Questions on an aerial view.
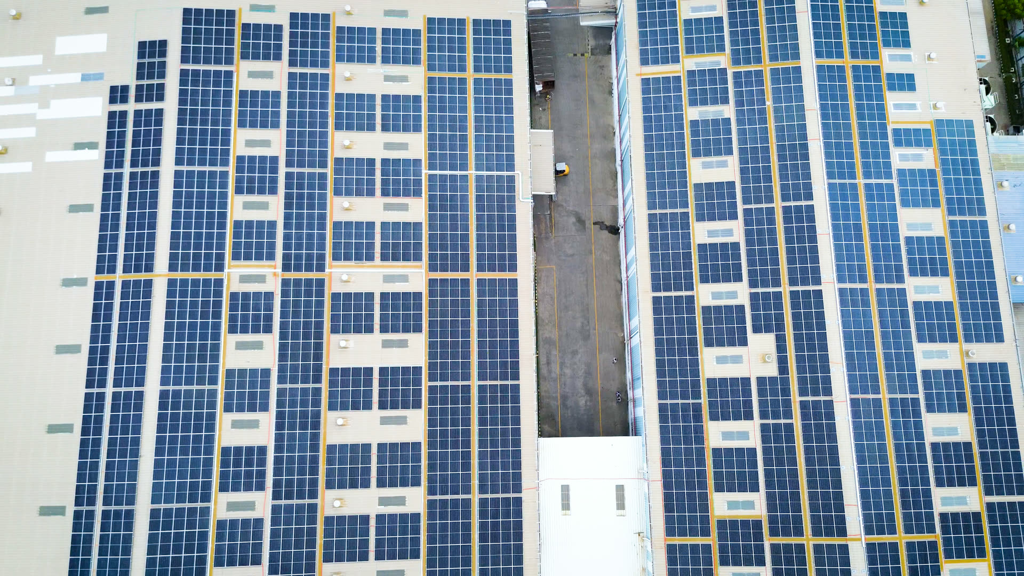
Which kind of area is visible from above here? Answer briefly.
industrial area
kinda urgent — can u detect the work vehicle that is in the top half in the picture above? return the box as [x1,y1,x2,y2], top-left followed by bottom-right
[556,164,570,178]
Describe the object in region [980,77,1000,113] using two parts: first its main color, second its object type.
white cooling tower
